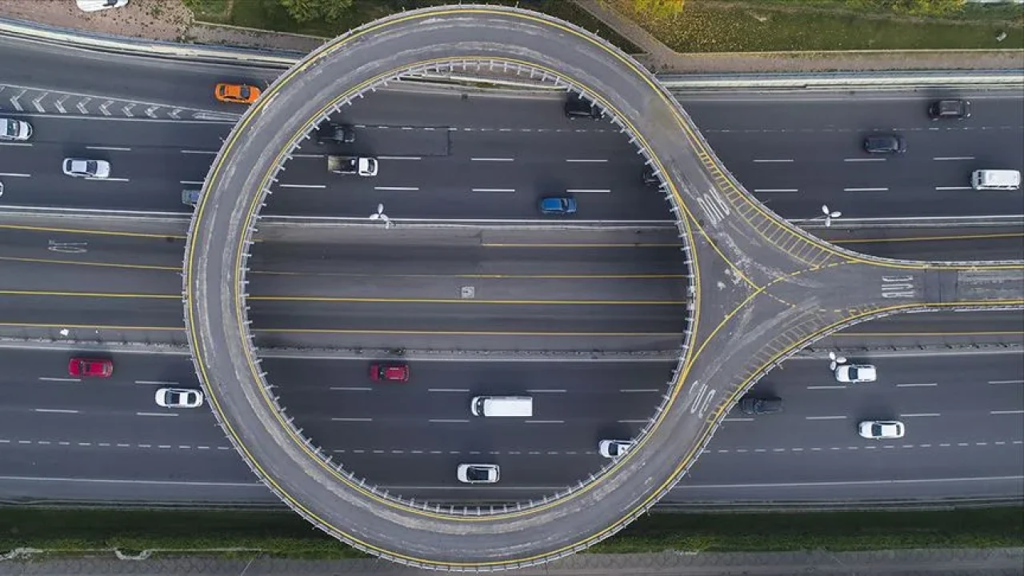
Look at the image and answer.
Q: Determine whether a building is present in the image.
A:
No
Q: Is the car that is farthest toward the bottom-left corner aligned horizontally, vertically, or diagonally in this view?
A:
horizontally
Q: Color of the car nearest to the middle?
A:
blue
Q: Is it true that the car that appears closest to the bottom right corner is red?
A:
No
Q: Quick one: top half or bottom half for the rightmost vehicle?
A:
top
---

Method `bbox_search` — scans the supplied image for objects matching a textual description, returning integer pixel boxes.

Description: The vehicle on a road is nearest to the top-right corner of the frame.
[926,97,972,121]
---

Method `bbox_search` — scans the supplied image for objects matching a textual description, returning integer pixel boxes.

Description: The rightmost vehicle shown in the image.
[968,168,1019,192]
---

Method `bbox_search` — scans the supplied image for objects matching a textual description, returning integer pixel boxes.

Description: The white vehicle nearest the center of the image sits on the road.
[472,394,533,418]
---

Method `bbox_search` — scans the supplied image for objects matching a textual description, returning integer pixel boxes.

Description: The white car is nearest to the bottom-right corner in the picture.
[857,419,903,441]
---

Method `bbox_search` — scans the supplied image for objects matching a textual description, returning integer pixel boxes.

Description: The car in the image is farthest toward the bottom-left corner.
[69,357,115,379]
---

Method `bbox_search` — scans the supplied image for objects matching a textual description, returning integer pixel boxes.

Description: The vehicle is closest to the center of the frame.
[539,195,578,216]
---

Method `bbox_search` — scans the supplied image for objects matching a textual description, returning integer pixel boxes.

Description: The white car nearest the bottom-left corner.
[156,387,204,410]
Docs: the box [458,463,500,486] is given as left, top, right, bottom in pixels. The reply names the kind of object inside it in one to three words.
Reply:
car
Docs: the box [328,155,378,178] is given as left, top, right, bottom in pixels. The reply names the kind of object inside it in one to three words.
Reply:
truck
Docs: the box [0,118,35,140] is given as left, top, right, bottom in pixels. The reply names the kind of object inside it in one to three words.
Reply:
car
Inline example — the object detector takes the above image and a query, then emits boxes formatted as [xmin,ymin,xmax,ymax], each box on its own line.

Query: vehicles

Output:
[563,96,608,117]
[739,395,783,417]
[215,82,262,104]
[926,97,972,121]
[458,463,500,486]
[370,362,410,384]
[968,168,1019,192]
[328,155,378,178]
[312,122,357,144]
[598,438,636,459]
[642,167,667,186]
[70,0,129,13]
[69,357,115,379]
[539,195,578,216]
[857,419,903,441]
[182,188,204,206]
[833,363,876,385]
[0,118,35,140]
[156,387,204,410]
[472,394,533,418]
[62,157,112,179]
